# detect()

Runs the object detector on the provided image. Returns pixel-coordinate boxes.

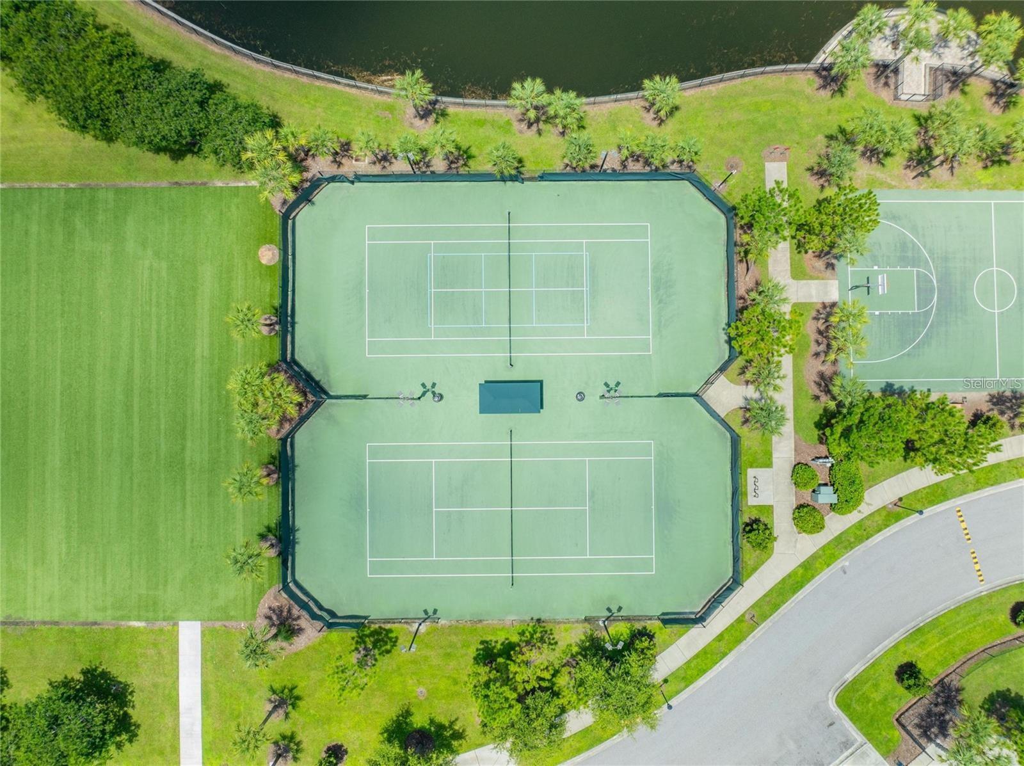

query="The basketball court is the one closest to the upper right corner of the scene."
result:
[837,190,1024,392]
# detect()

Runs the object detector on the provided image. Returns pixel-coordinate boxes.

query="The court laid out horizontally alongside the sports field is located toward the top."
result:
[292,183,725,398]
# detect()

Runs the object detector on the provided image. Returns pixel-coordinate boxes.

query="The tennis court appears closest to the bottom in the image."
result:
[292,397,730,619]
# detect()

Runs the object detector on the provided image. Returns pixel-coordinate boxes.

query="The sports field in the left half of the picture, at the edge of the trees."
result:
[0,186,280,621]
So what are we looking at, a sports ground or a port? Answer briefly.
sports ground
